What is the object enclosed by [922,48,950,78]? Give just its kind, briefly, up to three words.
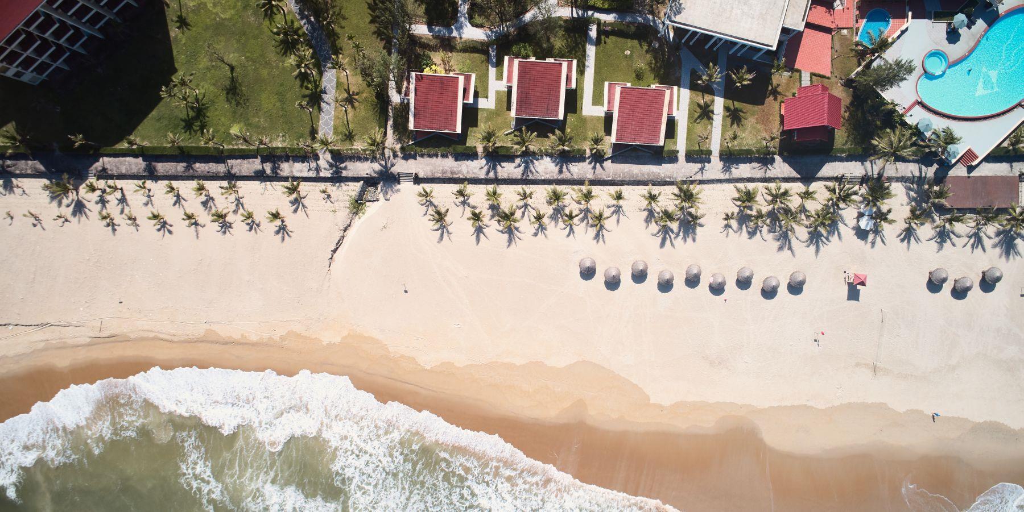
swimming pool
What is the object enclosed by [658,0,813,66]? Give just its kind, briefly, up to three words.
building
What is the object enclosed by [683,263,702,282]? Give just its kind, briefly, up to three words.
umbrella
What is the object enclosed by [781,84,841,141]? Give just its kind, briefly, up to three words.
house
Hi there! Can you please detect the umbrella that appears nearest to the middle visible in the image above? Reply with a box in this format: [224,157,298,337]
[578,256,597,275]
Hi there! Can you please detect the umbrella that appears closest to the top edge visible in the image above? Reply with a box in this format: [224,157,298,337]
[951,14,966,29]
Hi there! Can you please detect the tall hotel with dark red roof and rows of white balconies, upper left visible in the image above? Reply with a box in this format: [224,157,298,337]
[0,0,138,87]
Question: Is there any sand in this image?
Yes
